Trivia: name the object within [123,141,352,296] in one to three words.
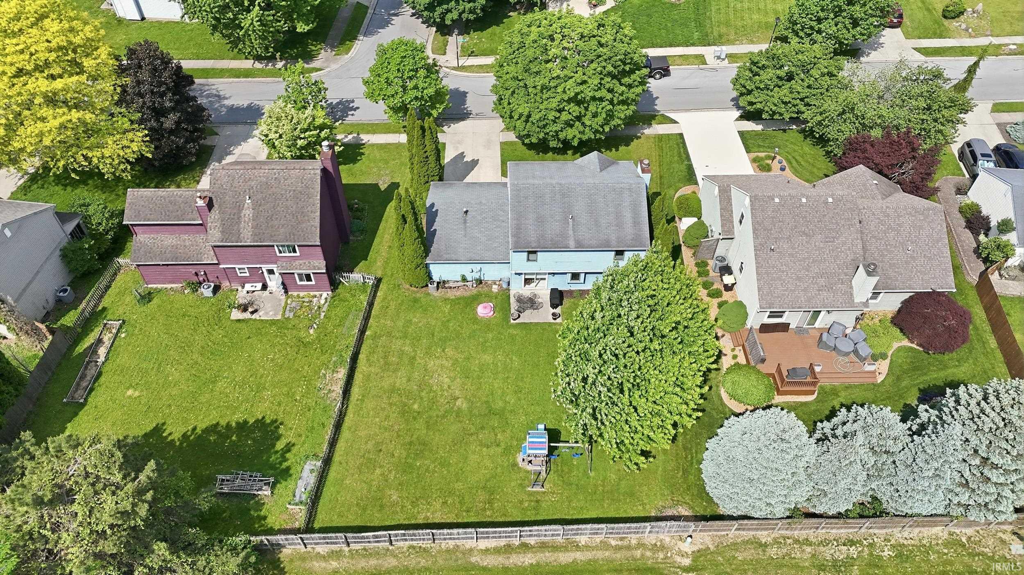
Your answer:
house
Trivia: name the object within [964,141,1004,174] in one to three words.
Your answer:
car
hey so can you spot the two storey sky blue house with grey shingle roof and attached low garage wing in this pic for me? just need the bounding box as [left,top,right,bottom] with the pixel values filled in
[423,148,653,295]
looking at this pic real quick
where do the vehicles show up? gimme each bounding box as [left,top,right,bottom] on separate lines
[883,0,905,21]
[631,54,675,78]
[964,141,1004,174]
[996,146,1024,172]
